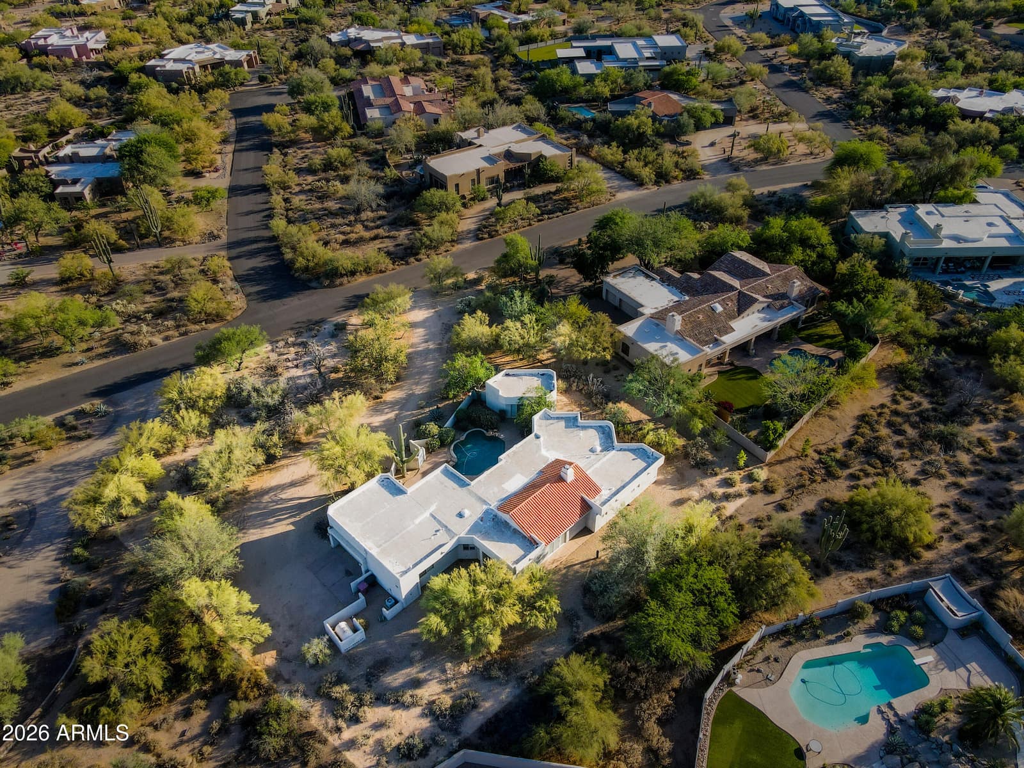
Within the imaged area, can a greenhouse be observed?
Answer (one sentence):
No, there's no greenhouse here.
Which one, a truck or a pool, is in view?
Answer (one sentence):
The one in the frame is a pool.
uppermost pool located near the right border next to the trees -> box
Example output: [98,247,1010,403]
[933,278,999,308]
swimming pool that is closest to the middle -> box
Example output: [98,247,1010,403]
[448,427,509,478]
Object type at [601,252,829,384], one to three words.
house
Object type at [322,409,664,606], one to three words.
house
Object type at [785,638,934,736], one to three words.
swimming pool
